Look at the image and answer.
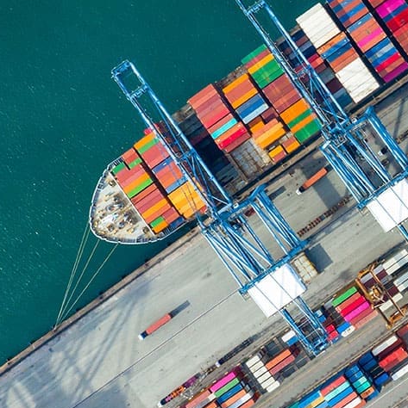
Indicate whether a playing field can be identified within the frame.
No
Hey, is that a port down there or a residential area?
port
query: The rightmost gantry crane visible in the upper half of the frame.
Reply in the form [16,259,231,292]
[235,0,408,241]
